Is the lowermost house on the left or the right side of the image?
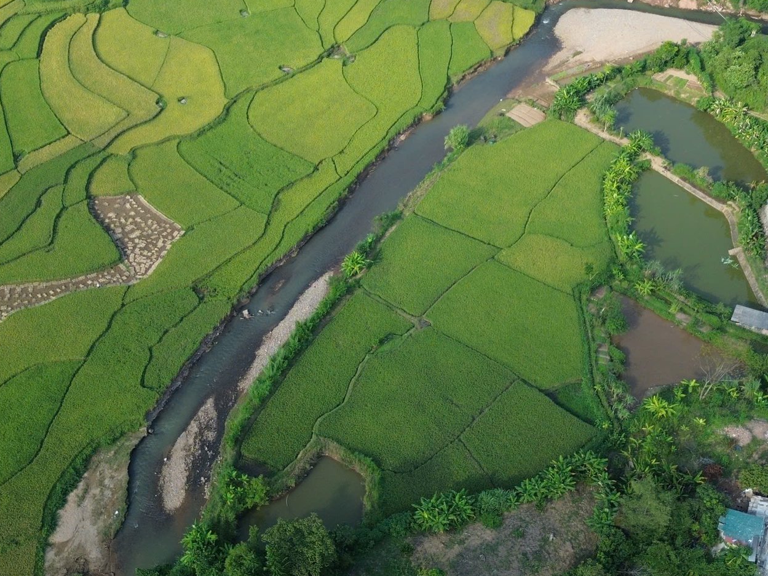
right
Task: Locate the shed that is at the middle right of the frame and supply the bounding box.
[732,304,768,332]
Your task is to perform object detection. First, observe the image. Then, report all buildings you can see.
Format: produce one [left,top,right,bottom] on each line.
[717,508,768,552]
[732,304,768,332]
